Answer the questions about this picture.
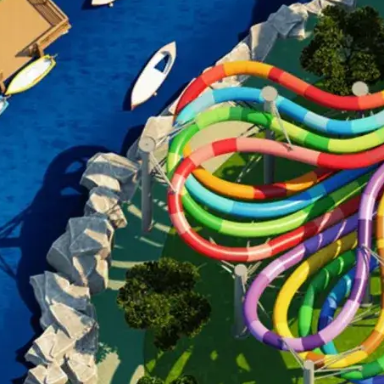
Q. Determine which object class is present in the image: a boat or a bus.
boat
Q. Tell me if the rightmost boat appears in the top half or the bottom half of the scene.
top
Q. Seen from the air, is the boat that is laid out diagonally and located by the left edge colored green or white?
white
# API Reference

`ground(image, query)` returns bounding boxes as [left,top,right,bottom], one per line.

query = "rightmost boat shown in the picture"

[130,38,176,107]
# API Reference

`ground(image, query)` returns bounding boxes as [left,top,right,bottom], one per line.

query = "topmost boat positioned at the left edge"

[4,51,57,92]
